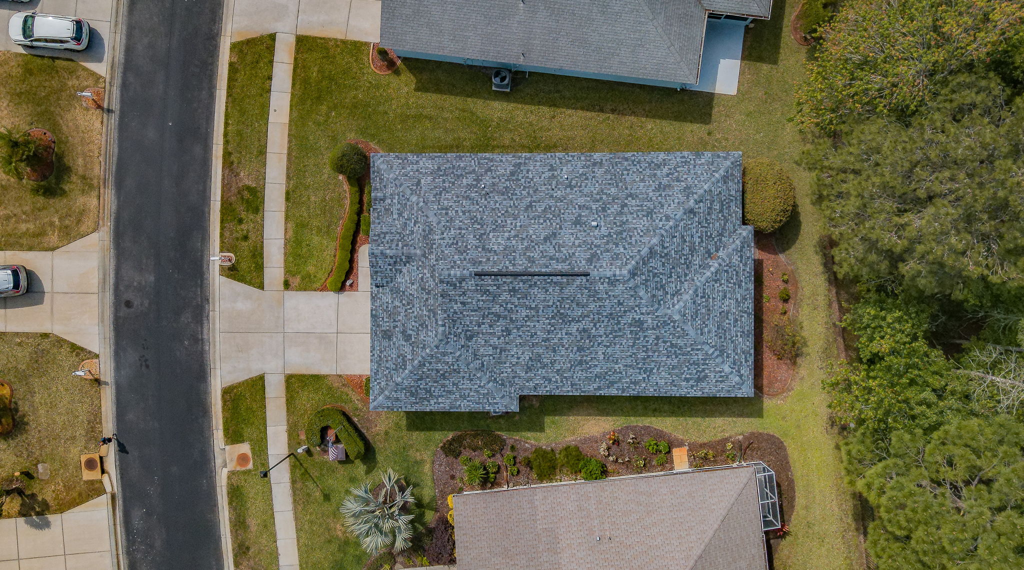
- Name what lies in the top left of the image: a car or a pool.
car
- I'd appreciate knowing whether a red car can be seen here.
No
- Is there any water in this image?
No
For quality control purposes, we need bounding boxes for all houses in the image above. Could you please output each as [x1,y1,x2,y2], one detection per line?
[381,0,773,94]
[369,152,754,412]
[453,458,770,570]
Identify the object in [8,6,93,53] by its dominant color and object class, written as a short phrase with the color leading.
white car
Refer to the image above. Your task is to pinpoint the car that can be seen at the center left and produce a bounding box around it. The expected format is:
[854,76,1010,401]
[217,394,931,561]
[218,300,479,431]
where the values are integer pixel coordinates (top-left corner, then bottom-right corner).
[0,264,33,297]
